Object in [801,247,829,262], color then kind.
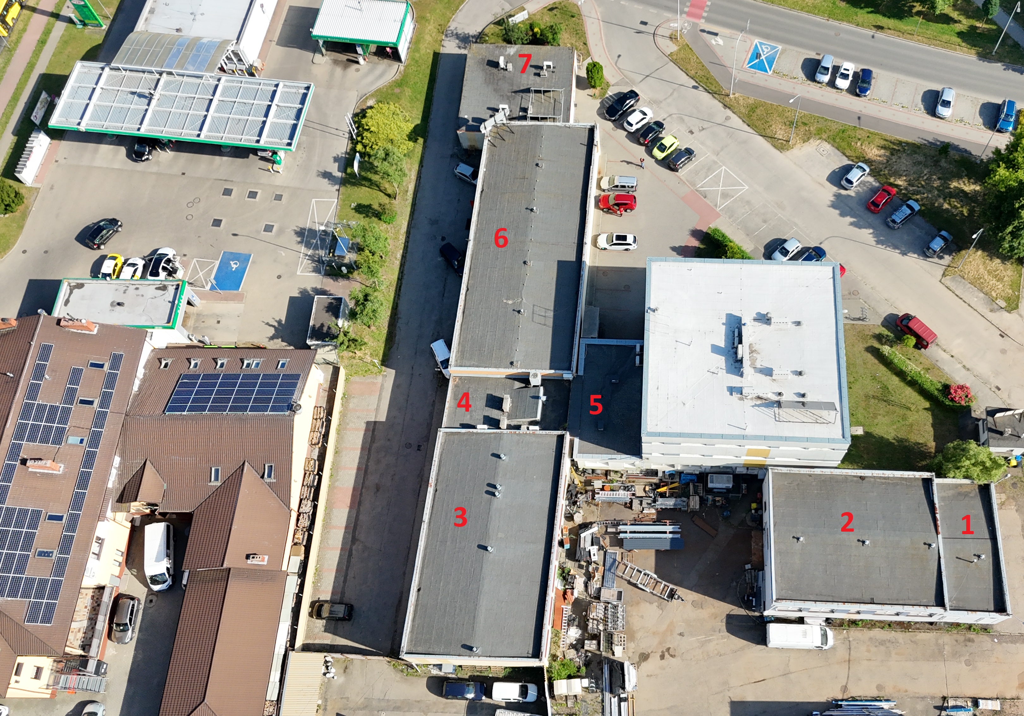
blue car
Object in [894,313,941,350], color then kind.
red van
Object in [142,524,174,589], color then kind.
white van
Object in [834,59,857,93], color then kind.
white car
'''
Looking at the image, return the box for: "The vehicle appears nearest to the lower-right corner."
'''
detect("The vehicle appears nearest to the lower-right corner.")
[768,624,832,651]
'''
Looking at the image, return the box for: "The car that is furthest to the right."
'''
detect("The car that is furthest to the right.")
[995,98,1018,133]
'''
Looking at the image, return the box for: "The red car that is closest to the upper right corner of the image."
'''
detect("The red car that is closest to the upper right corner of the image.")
[863,184,899,216]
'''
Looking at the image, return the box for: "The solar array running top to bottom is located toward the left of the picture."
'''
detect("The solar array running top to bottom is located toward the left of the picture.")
[0,343,117,624]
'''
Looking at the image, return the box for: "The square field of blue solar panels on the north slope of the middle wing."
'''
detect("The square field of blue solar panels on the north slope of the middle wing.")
[164,372,301,412]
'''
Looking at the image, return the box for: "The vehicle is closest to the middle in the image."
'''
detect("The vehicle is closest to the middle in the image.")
[428,338,452,380]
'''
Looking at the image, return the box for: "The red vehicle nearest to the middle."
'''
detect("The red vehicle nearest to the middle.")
[598,193,637,214]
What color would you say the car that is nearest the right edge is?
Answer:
blue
